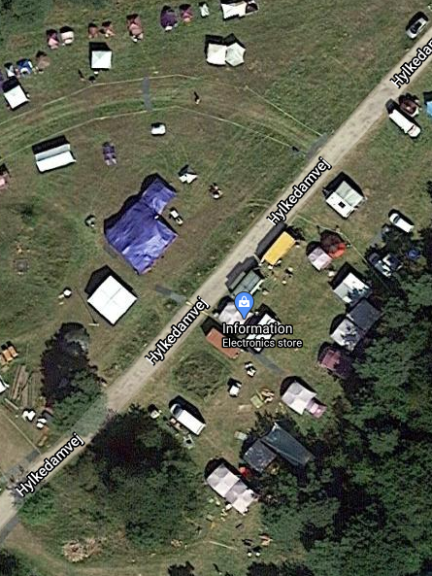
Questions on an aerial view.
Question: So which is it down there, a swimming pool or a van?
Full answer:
The one in the frame is a van.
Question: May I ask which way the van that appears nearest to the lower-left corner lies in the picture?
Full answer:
In this picture, the van that appears nearest to the lower-left corner is oriented at an angle.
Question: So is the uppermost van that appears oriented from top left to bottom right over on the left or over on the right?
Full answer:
The uppermost van that appears oriented from top left to bottom right appears in the right half of the scene.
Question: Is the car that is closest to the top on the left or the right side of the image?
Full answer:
You can find the car that is closest to the top on the right side of the picture.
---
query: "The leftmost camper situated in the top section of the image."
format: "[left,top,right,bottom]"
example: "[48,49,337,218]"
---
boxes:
[326,191,356,220]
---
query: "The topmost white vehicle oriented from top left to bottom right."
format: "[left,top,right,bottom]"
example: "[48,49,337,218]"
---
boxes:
[388,103,423,137]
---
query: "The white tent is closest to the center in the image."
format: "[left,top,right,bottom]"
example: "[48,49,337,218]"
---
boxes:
[219,298,252,329]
